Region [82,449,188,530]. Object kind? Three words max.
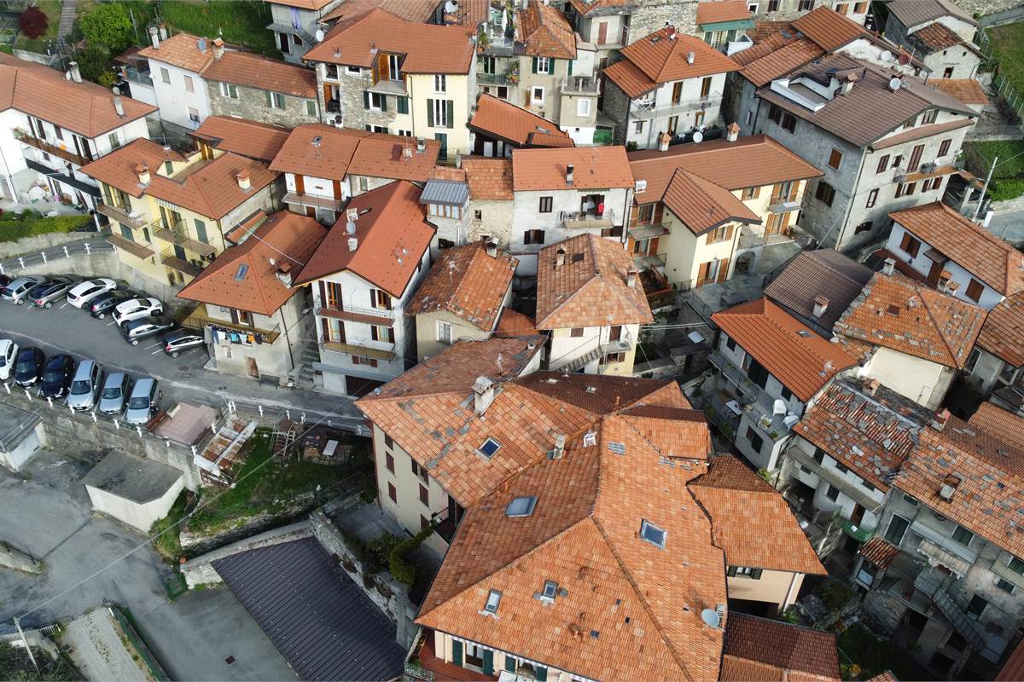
building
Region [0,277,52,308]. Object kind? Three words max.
car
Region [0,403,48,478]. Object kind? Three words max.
building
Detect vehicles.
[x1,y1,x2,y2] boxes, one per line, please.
[39,353,77,398]
[64,276,123,307]
[0,277,52,308]
[11,346,50,391]
[67,360,105,410]
[24,276,78,311]
[95,371,132,418]
[113,315,181,351]
[107,296,170,329]
[82,289,140,323]
[122,372,160,426]
[0,332,22,382]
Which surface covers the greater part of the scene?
buildings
